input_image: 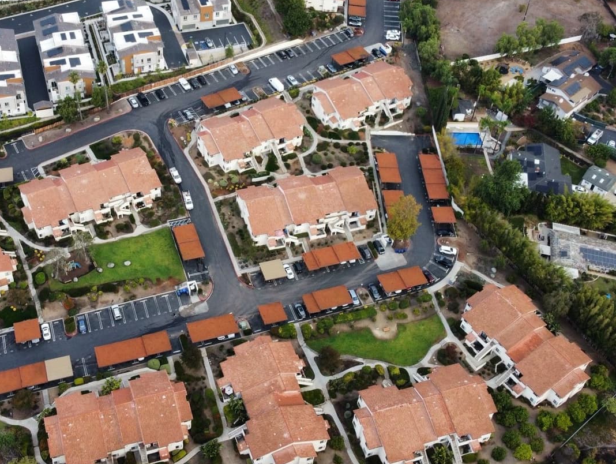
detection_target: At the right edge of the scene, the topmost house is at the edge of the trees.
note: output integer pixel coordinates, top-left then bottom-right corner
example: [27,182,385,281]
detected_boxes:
[524,44,593,82]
